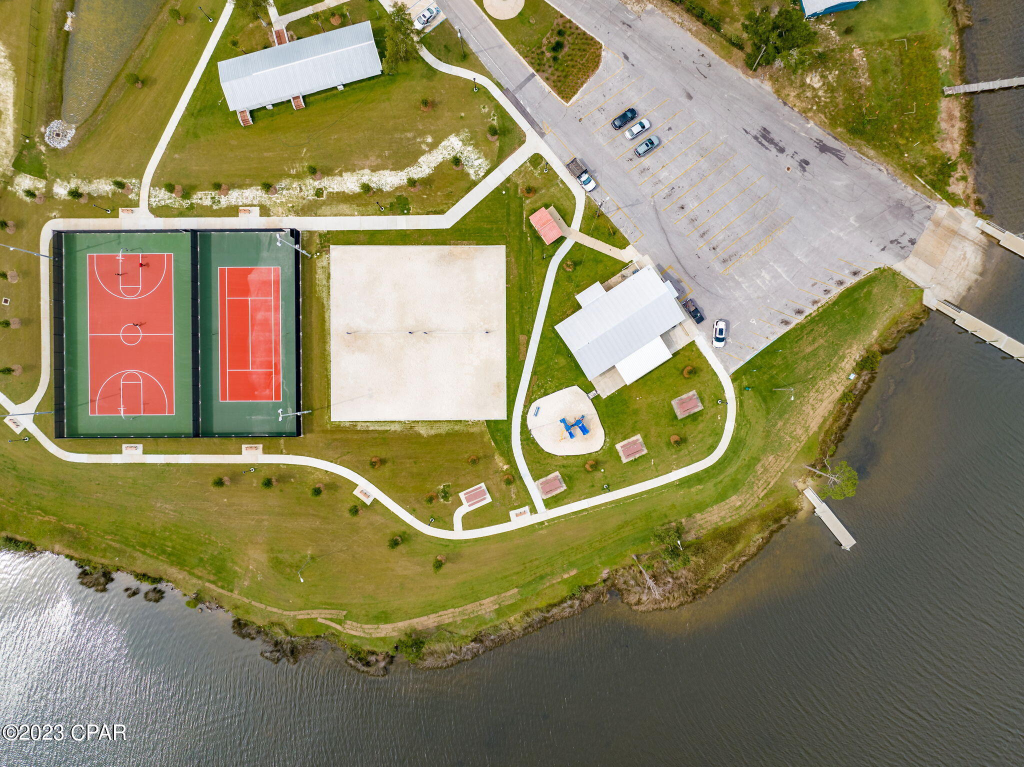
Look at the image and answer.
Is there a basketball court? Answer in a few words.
Yes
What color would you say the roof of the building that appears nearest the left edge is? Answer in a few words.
white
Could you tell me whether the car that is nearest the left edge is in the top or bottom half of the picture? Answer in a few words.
top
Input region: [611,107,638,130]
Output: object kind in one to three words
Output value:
car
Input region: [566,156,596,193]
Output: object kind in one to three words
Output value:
truck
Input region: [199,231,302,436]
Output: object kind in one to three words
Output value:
tennis court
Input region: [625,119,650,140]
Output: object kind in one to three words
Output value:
car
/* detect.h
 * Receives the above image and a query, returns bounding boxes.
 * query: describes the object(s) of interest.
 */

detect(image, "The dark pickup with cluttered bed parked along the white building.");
[681,296,706,325]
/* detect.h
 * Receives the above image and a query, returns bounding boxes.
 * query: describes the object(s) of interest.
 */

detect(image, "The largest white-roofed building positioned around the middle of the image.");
[554,264,685,385]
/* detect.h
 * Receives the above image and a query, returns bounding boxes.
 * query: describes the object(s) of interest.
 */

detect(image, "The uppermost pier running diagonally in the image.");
[975,219,1024,259]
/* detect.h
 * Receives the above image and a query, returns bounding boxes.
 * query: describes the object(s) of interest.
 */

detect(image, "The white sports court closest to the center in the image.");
[330,245,506,420]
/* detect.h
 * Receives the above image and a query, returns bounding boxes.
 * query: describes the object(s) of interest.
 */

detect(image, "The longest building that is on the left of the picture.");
[218,20,382,126]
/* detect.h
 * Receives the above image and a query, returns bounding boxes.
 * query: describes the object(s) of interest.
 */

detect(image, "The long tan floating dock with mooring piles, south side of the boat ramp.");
[941,300,1024,362]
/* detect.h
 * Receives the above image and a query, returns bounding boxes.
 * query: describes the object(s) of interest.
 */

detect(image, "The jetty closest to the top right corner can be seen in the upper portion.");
[941,77,1024,98]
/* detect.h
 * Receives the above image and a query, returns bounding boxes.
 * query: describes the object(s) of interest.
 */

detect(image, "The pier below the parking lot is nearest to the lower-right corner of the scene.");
[803,486,856,550]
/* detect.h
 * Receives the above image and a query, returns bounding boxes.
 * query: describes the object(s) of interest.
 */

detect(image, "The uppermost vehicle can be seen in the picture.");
[414,6,440,30]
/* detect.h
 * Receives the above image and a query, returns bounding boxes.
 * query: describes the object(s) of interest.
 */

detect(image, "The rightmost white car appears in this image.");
[712,319,727,348]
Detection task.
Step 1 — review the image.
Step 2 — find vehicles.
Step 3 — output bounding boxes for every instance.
[611,107,638,130]
[414,6,440,30]
[566,156,596,193]
[681,296,706,325]
[625,119,650,140]
[712,319,727,348]
[634,136,660,158]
